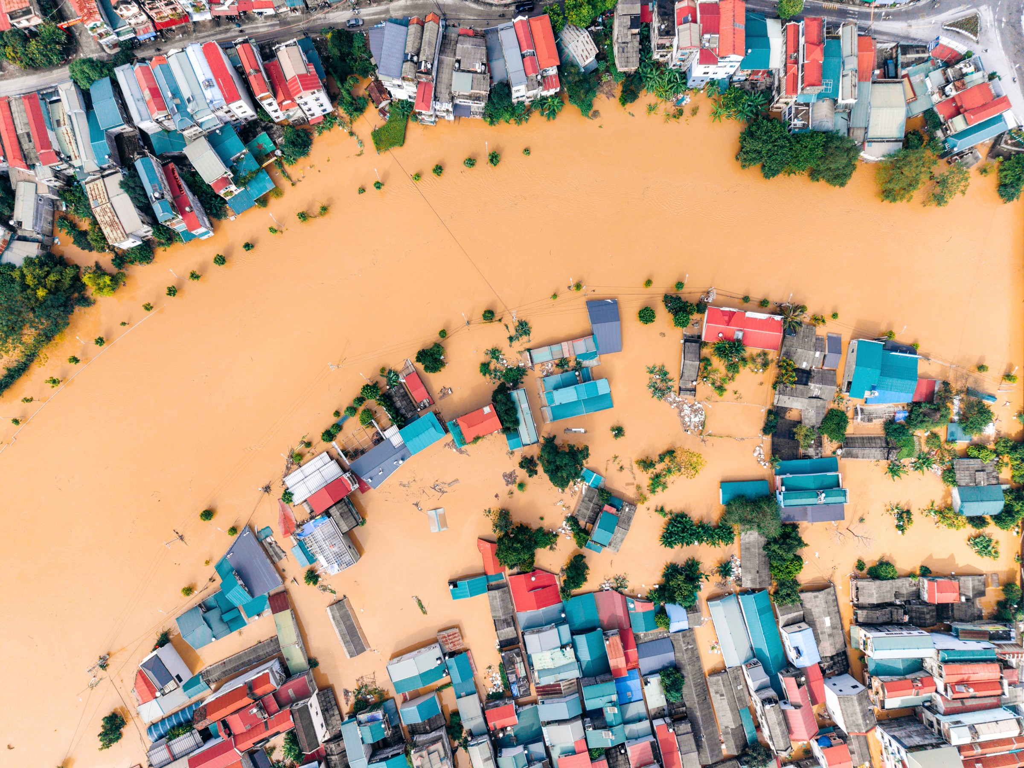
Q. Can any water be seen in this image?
Yes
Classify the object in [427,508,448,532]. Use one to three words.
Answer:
greenhouse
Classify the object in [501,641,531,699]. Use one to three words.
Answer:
house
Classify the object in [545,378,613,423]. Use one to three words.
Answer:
building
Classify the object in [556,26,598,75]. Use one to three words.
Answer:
shed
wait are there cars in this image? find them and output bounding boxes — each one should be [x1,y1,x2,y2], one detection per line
[515,1,535,12]
[344,16,364,27]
